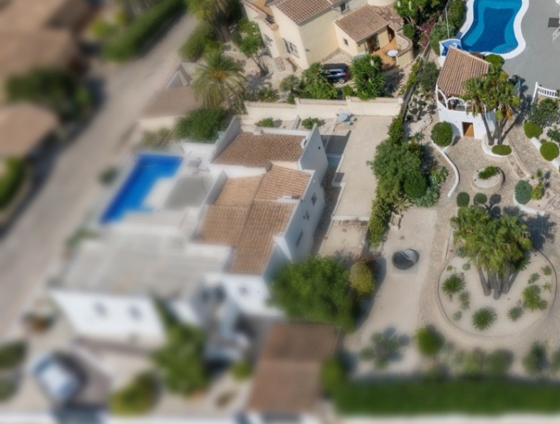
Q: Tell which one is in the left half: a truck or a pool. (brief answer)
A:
pool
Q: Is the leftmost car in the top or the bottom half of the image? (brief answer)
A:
bottom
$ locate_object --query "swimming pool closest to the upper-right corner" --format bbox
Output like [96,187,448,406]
[452,0,531,59]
